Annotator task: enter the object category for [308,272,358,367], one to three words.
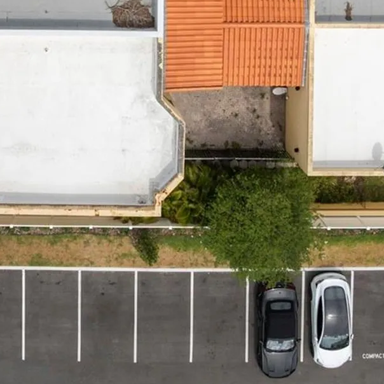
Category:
car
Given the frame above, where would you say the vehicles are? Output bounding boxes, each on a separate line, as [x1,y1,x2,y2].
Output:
[255,280,302,377]
[308,272,358,367]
